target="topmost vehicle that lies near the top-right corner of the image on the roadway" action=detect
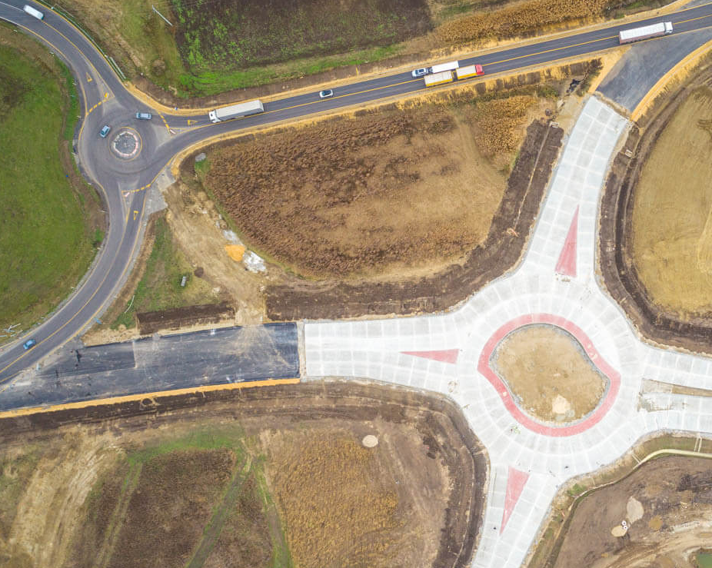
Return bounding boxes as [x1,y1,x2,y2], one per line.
[618,25,673,46]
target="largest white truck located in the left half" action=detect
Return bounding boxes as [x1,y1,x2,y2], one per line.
[212,98,268,123]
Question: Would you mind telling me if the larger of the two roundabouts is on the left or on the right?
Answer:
right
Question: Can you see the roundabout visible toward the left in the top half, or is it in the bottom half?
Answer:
top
